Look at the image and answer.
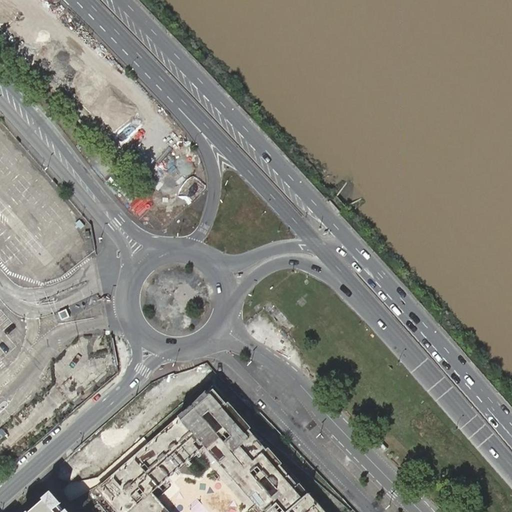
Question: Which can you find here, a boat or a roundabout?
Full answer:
Visible in the photo is a roundabout.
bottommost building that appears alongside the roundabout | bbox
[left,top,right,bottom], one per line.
[90,389,325,512]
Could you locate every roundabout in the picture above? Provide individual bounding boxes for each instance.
[118,242,234,358]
